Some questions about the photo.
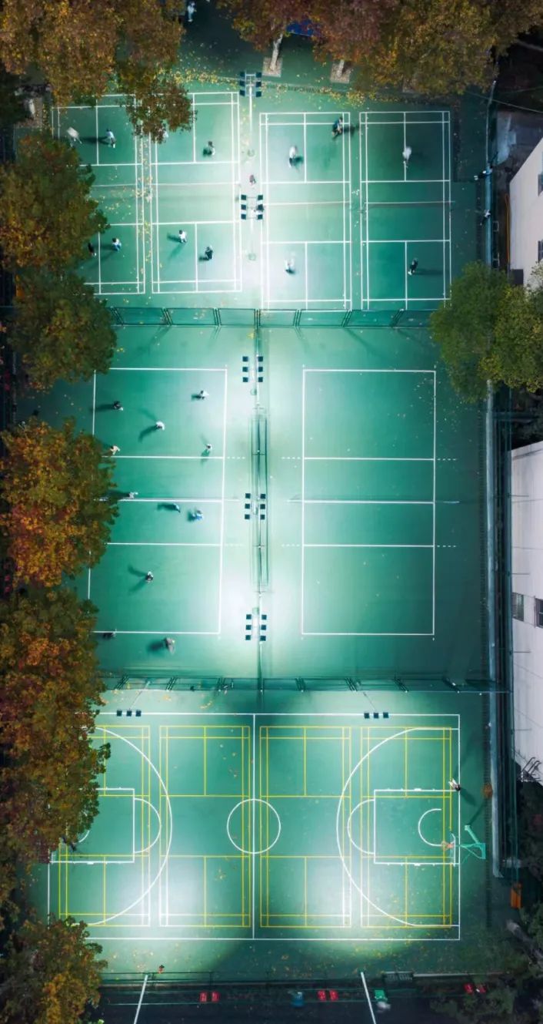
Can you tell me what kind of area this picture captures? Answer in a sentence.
It's a sports ground.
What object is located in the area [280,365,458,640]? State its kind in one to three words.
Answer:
sports court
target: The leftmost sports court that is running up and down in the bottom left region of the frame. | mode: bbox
[59,726,150,927]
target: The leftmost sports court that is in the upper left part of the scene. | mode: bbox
[49,89,148,301]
